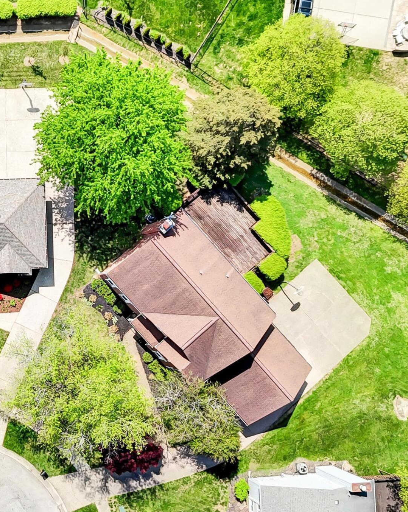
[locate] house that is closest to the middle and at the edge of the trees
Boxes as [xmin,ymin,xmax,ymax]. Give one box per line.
[101,207,312,427]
